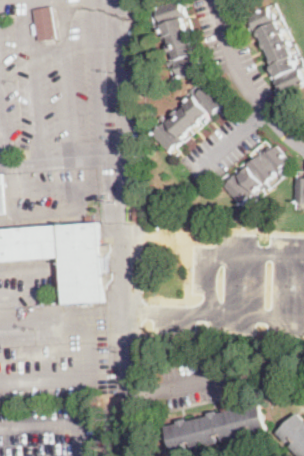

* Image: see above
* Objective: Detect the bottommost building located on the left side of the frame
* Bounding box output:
[0,224,112,306]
